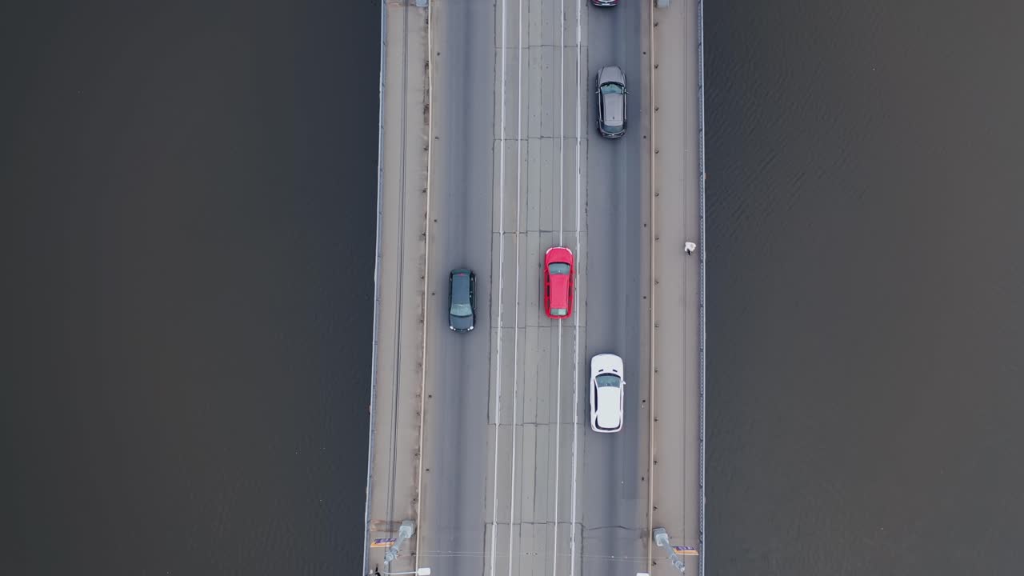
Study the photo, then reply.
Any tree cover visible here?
No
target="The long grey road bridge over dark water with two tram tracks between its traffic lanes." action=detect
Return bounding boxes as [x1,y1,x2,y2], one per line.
[364,0,703,576]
